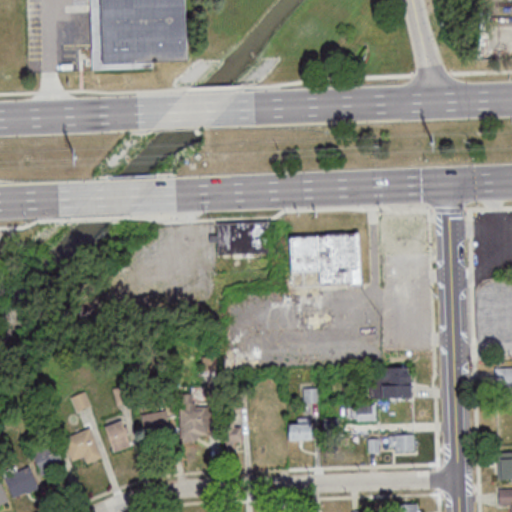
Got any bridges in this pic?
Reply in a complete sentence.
Yes, the frame does contain a bridge.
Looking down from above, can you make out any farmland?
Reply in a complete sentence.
No, the picture contains no farmland.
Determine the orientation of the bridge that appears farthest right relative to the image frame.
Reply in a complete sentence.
In this picture, the bridge that appears farthest right is oriented horizontally.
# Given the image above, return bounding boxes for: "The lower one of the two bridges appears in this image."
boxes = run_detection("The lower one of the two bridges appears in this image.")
[58,174,176,228]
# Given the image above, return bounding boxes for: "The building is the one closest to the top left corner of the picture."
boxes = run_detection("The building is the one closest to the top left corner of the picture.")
[90,0,188,71]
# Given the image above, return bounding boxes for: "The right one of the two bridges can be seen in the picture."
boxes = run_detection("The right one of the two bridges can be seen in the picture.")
[136,86,254,133]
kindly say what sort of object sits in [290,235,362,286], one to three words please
building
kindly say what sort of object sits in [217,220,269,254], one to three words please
building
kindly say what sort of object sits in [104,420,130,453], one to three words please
house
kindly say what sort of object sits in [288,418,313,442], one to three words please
house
